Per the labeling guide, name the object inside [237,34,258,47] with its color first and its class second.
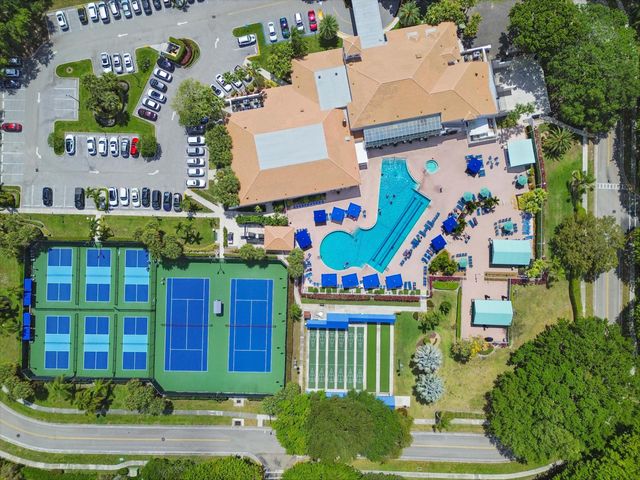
white vehicle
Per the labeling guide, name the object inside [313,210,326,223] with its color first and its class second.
blue umbrella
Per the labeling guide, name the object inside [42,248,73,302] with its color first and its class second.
blue sports court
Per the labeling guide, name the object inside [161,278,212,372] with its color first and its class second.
blue tennis court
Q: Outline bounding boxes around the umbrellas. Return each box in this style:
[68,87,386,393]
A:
[479,187,489,196]
[313,210,326,223]
[517,175,527,186]
[330,208,346,223]
[362,273,380,289]
[295,229,312,249]
[346,204,362,219]
[385,274,402,289]
[462,191,472,201]
[503,221,512,231]
[458,258,467,267]
[466,158,481,172]
[321,274,337,288]
[442,216,457,232]
[342,273,359,289]
[429,234,447,251]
